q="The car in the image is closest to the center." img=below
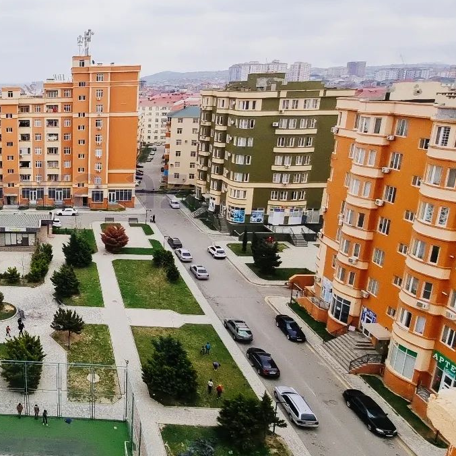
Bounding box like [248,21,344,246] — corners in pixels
[206,243,227,256]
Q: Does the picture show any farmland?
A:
No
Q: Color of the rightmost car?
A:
black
